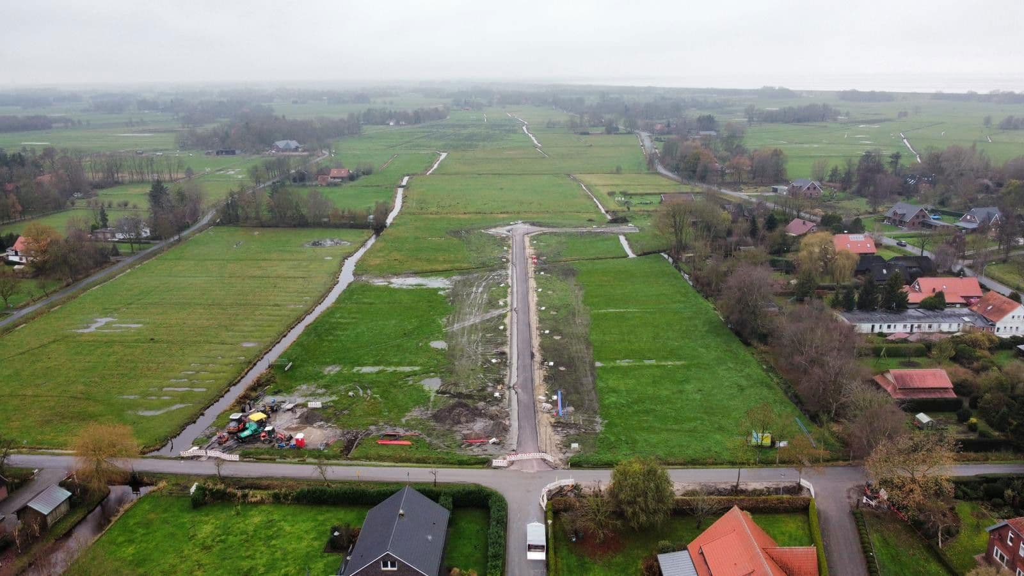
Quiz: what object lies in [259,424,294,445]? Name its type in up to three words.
work vehicle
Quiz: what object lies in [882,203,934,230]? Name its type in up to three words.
house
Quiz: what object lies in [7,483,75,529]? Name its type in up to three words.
shed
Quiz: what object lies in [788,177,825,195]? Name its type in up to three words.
house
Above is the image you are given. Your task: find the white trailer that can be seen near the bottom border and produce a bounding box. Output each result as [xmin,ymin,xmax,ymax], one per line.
[526,518,547,558]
